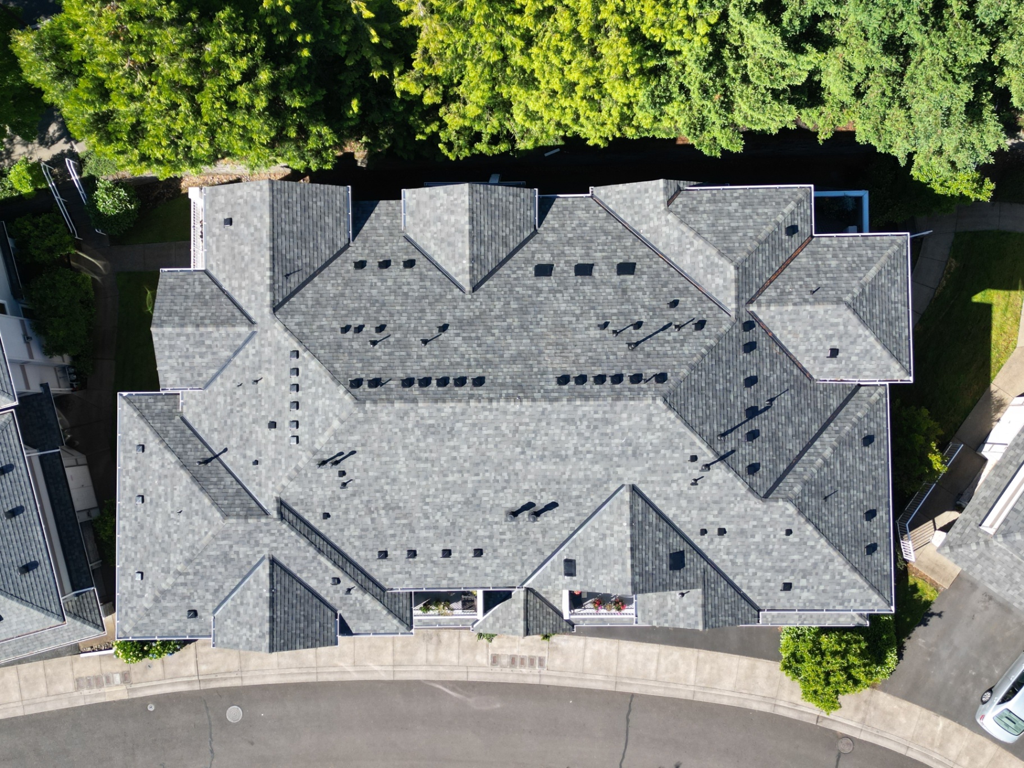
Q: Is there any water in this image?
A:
No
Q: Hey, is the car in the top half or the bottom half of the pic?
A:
bottom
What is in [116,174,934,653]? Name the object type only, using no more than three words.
building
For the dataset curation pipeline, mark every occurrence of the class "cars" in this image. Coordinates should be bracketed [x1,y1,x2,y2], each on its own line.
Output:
[979,649,1024,744]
